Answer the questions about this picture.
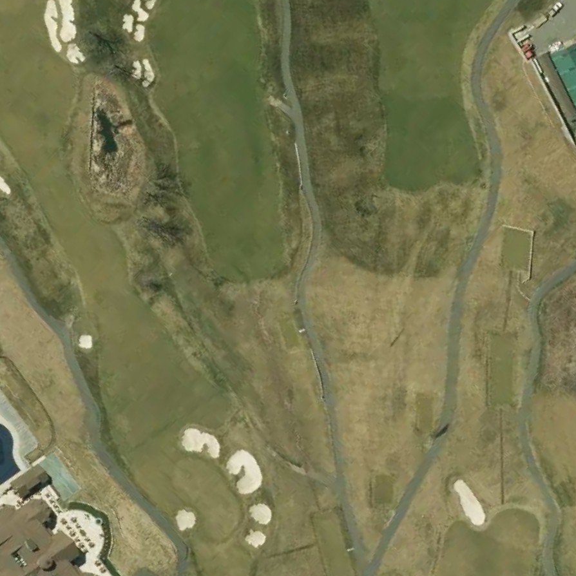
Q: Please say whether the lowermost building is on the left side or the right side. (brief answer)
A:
left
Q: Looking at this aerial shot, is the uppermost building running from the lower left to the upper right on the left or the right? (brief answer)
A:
left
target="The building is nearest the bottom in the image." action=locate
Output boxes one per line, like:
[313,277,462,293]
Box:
[0,497,83,576]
